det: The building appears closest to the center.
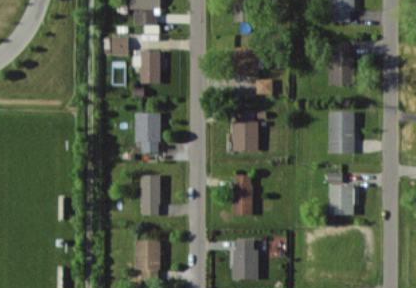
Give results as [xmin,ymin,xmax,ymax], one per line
[229,120,260,152]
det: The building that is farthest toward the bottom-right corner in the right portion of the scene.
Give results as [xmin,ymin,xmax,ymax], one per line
[329,184,355,216]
